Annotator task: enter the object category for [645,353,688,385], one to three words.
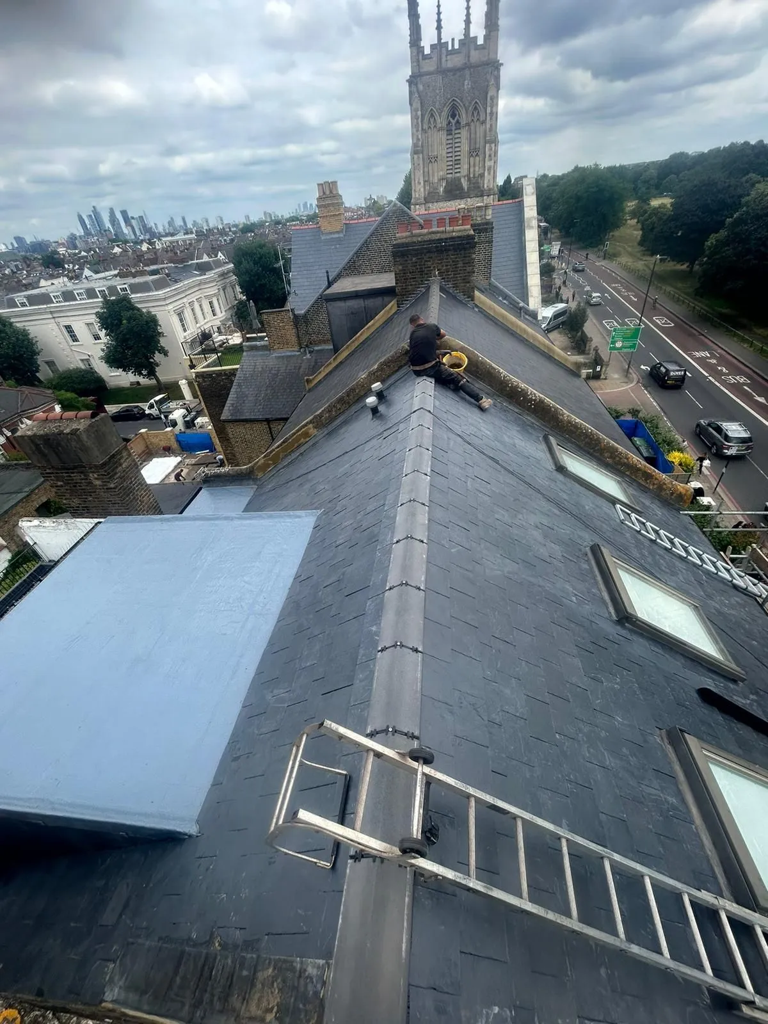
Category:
van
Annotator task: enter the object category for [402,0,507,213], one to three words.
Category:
building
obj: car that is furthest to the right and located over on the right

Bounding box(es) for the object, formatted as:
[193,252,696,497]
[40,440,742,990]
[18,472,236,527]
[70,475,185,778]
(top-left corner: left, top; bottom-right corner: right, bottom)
[697,413,759,453]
